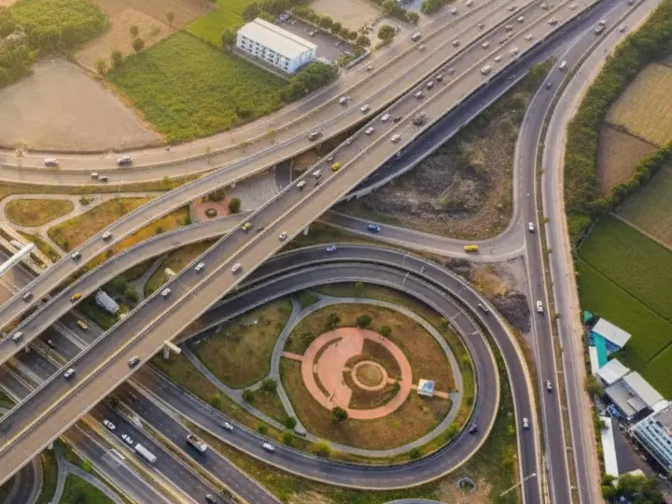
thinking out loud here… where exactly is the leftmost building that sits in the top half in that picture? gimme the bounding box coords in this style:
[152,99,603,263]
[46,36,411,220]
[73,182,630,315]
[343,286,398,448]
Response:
[235,14,313,76]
